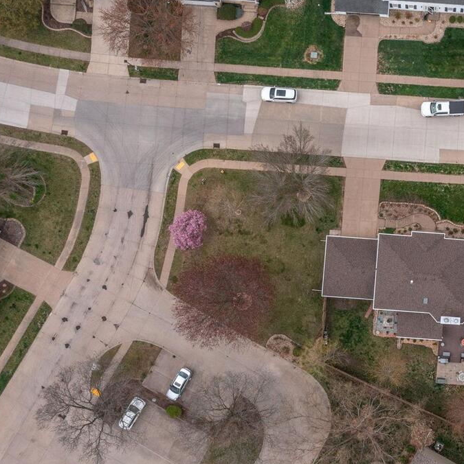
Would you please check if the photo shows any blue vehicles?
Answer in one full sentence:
No, there's no blue vehicle here.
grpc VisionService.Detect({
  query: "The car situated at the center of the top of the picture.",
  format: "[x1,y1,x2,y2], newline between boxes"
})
[264,86,297,103]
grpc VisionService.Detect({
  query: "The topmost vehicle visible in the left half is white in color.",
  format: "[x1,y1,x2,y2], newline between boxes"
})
[168,366,192,401]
